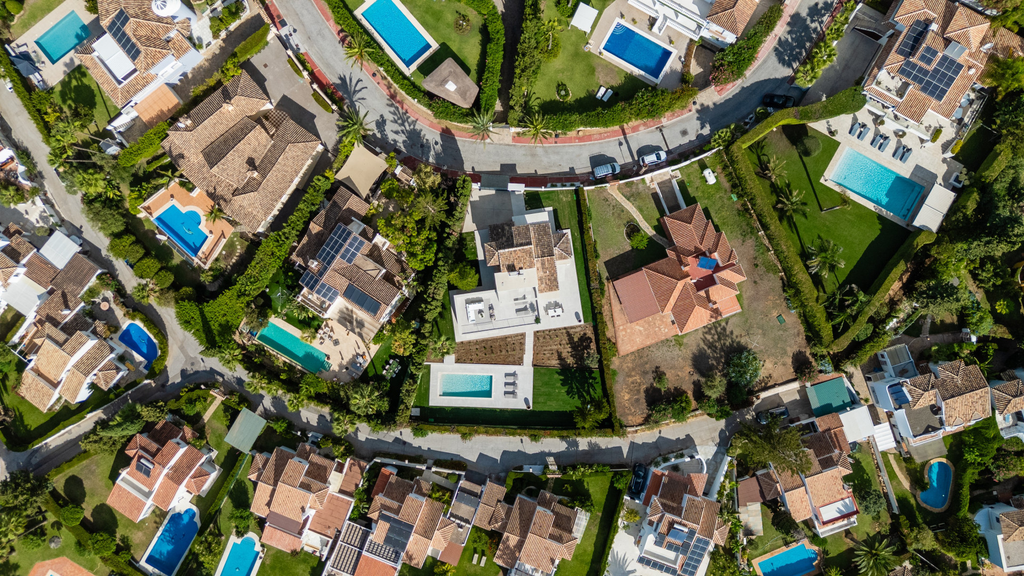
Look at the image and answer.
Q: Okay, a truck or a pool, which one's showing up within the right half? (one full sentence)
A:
The feature located within the right half is a pool.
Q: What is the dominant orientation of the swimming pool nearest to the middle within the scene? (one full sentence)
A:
In this picture, the swimming pool nearest to the middle is oriented from left to right.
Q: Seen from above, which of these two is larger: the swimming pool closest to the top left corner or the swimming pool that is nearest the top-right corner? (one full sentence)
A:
Compared with the swimming pool closest to the top left corner, the swimming pool that is nearest the top-right corner is the larger one.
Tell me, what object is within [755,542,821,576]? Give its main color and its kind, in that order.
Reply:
blue swimming pool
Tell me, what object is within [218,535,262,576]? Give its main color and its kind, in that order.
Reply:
blue swimming pool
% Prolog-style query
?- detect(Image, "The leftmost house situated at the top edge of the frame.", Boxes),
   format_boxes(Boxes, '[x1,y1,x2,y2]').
[75,0,211,134]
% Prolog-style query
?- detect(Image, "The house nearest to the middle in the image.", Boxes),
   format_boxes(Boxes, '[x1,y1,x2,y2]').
[454,212,571,333]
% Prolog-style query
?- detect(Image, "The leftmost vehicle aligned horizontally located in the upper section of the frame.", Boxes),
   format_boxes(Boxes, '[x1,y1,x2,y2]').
[593,164,619,177]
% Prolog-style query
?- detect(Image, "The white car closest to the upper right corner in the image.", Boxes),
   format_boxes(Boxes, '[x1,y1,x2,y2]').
[639,151,666,165]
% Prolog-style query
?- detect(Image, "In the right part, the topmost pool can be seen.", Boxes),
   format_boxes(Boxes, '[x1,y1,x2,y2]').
[598,16,678,84]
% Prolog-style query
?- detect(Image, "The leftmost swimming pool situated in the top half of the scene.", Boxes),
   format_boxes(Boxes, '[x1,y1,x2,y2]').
[33,9,93,65]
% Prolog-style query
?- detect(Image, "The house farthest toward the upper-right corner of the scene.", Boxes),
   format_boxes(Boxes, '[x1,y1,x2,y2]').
[861,0,1024,140]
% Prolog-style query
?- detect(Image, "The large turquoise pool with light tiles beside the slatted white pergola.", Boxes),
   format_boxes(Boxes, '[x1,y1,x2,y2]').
[827,145,927,223]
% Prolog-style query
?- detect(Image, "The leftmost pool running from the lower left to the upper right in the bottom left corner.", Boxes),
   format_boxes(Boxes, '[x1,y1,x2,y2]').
[143,506,199,576]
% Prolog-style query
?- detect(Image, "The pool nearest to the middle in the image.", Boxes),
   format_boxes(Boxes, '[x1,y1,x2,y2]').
[436,371,495,401]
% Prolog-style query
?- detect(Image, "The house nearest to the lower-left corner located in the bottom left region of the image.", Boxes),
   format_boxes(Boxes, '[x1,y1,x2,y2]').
[106,416,223,523]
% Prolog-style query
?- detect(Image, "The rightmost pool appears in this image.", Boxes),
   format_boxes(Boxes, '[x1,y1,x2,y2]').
[918,459,955,511]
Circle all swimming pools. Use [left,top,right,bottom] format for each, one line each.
[151,201,210,260]
[436,371,495,401]
[117,321,160,371]
[598,16,678,84]
[256,320,334,373]
[143,506,199,576]
[918,459,955,511]
[827,145,927,223]
[218,535,262,576]
[755,542,821,576]
[33,9,93,65]
[355,0,438,75]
